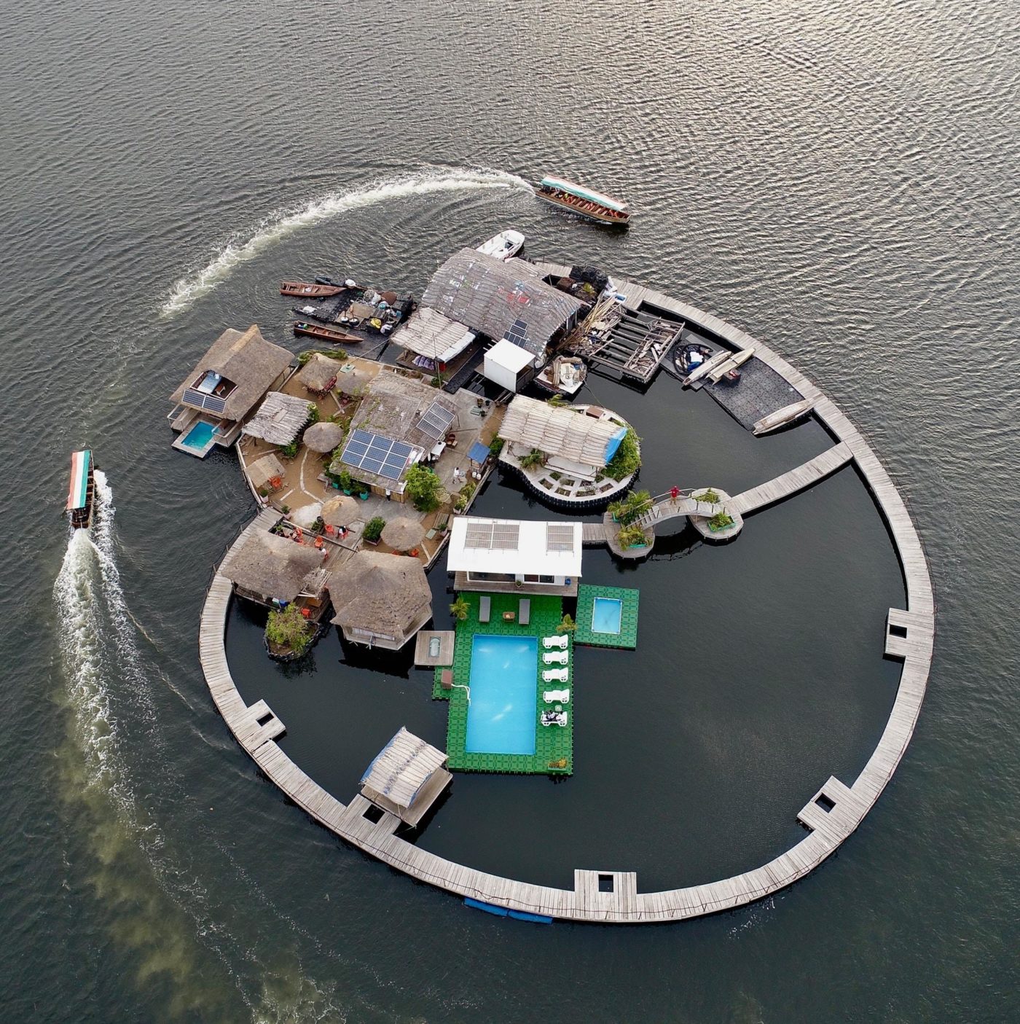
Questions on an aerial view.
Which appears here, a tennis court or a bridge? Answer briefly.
bridge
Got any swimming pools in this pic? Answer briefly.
Yes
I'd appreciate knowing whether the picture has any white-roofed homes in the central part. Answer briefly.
Yes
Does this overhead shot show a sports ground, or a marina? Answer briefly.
marina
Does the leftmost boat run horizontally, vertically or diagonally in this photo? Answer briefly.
vertically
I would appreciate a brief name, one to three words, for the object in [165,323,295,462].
house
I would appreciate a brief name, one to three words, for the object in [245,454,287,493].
shed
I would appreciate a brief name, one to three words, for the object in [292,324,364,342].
boat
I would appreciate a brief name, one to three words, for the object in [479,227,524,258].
boat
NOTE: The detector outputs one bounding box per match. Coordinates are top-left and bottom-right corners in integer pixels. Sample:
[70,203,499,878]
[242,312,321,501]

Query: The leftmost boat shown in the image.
[63,445,97,533]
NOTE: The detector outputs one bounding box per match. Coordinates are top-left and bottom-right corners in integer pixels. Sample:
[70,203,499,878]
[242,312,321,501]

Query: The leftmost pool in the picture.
[181,422,220,452]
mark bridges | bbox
[628,490,720,534]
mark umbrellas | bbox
[375,517,431,558]
[313,496,365,536]
[300,421,346,458]
[327,367,376,402]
